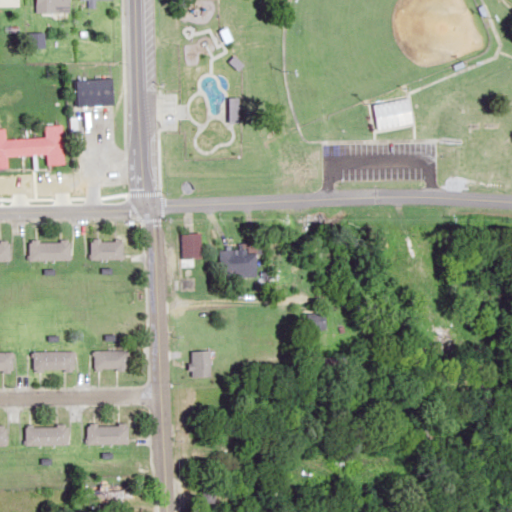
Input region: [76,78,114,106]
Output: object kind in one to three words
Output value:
building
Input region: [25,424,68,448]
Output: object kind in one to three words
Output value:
house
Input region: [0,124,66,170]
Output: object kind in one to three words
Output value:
building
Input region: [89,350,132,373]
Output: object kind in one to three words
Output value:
house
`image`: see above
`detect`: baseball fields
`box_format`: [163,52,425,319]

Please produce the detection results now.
[286,0,487,125]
